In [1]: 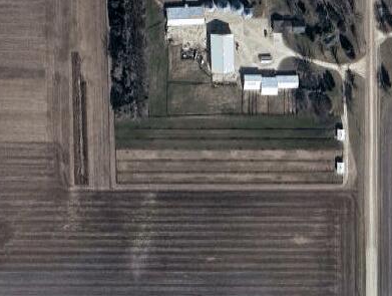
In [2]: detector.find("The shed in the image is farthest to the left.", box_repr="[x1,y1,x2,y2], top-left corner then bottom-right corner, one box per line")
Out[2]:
[166,7,204,26]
